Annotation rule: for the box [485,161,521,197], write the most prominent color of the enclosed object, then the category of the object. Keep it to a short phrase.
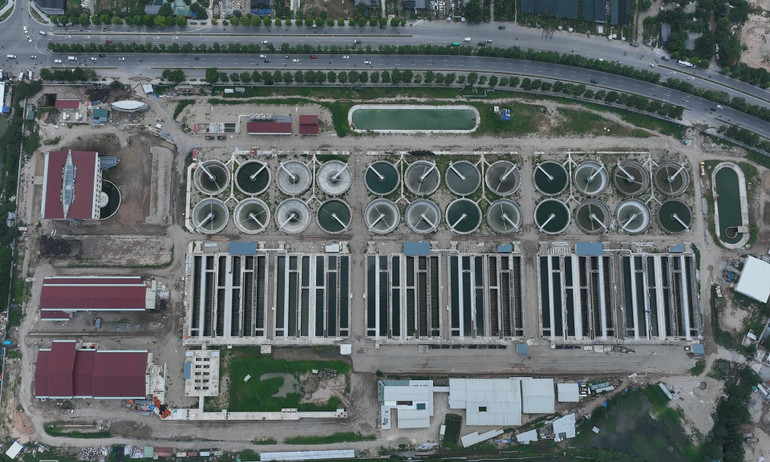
gray storage tank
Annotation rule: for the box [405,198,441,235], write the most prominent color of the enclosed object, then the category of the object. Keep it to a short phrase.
gray storage tank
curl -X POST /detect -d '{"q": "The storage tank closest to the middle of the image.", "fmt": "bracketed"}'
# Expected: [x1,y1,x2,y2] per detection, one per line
[364,198,401,235]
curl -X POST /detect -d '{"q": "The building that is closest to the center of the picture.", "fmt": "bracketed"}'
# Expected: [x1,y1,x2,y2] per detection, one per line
[404,242,429,254]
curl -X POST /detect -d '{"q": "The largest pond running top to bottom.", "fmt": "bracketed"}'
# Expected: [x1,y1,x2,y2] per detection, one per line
[711,163,749,248]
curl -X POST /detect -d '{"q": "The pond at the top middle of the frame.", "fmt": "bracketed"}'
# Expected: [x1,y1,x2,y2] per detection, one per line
[347,105,480,133]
